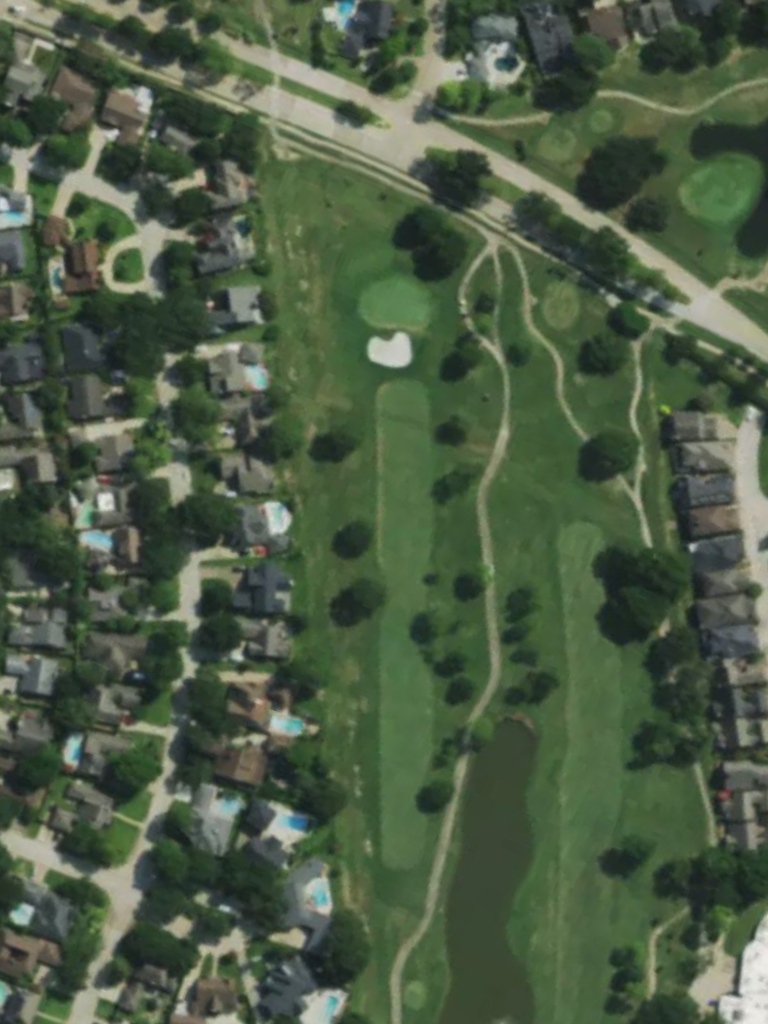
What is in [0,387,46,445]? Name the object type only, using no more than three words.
house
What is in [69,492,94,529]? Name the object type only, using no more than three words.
swimming pool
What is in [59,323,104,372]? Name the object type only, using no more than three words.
house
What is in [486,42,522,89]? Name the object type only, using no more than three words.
swimming pool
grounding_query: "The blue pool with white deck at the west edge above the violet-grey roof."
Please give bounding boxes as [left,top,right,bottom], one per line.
[0,193,33,229]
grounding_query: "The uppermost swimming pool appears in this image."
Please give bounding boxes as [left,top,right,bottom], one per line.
[323,0,358,31]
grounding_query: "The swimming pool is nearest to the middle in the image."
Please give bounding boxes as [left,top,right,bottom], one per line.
[267,501,292,531]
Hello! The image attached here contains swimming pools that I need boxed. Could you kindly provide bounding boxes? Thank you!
[323,0,358,31]
[0,193,33,229]
[263,802,310,852]
[300,988,348,1024]
[79,529,111,551]
[64,732,84,767]
[270,711,315,736]
[69,492,94,529]
[486,42,522,89]
[11,902,33,926]
[219,794,245,819]
[242,364,270,391]
[49,257,65,294]
[233,214,255,260]
[267,501,292,531]
[309,877,333,914]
